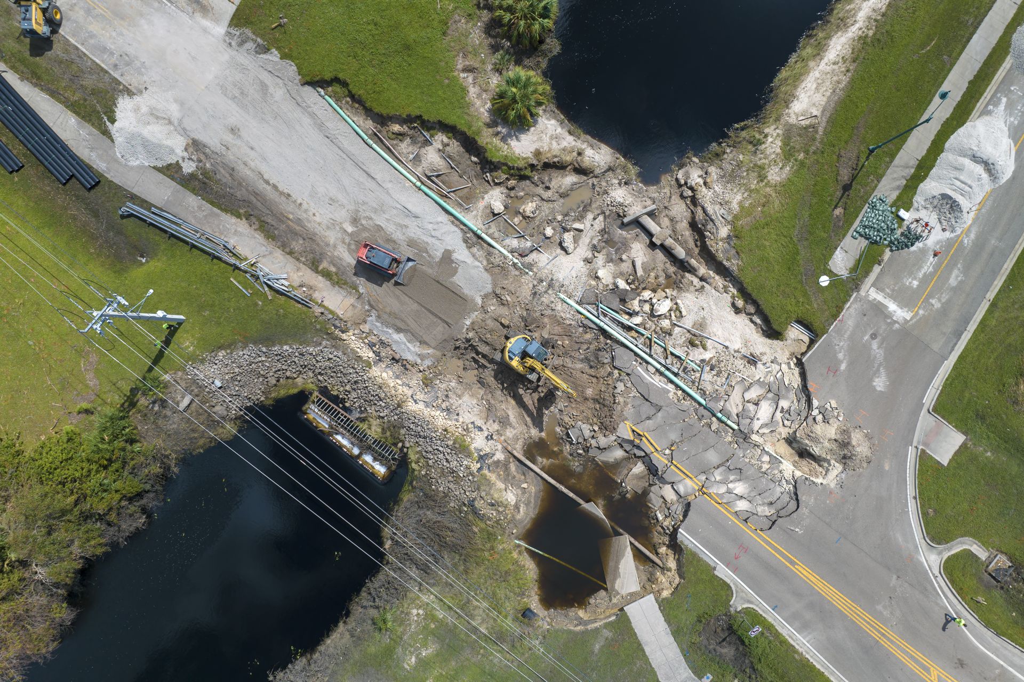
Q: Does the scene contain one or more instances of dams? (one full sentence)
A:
Yes, a dam is visible in the scene.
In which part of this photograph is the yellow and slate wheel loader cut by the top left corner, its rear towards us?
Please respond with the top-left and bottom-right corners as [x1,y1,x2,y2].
[19,0,67,45]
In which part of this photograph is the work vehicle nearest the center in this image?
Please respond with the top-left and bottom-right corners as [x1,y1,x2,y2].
[495,328,580,396]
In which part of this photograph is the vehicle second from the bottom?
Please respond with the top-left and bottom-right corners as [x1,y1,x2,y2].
[351,239,411,286]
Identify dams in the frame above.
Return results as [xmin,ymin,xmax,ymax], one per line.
[302,393,399,482]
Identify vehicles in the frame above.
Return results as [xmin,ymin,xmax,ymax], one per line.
[351,239,411,286]
[19,0,67,45]
[495,328,580,396]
